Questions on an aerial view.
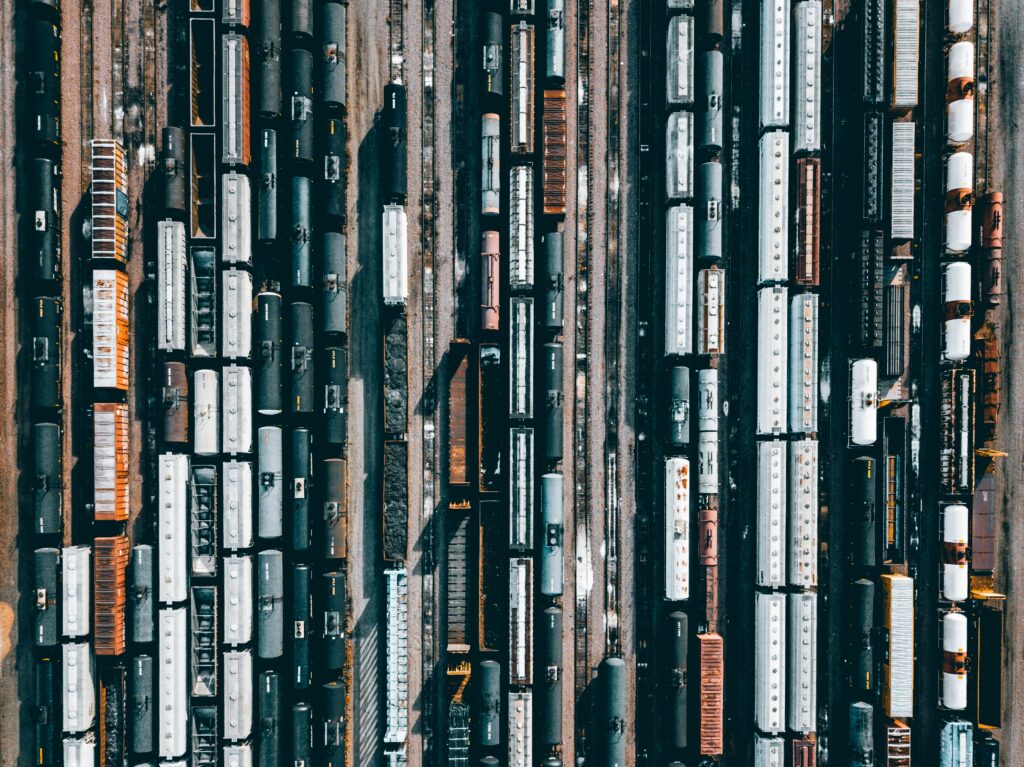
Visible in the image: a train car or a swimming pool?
train car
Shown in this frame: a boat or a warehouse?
boat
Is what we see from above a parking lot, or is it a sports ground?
parking lot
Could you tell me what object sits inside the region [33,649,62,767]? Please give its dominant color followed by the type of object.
black rail car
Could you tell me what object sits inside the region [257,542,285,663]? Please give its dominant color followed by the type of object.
gray rail car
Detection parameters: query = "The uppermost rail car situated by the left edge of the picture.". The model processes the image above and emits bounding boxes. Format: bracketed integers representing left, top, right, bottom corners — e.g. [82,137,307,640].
[31,0,61,21]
